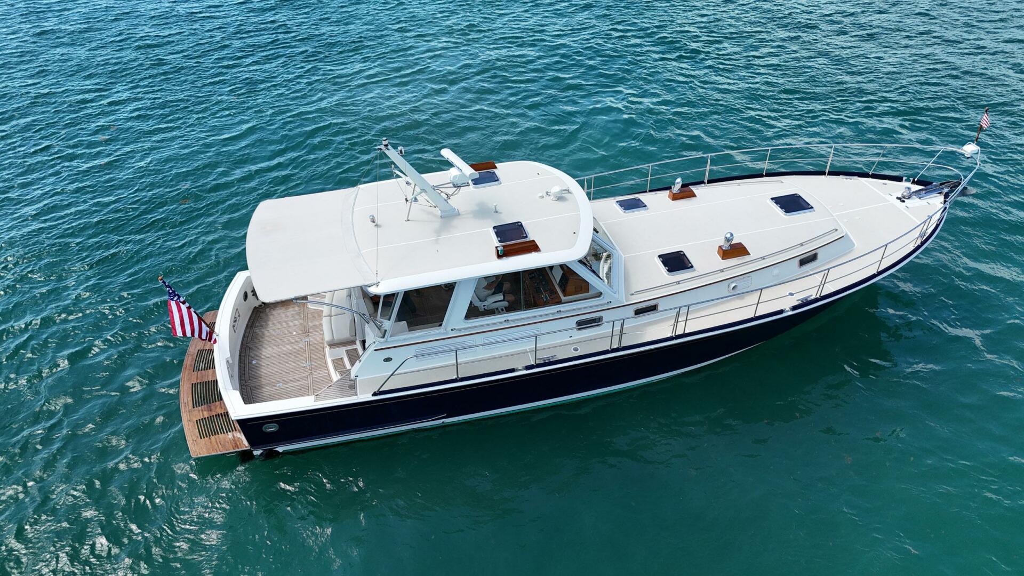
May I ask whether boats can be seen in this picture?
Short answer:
Yes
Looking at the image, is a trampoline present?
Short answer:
No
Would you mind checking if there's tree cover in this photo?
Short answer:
No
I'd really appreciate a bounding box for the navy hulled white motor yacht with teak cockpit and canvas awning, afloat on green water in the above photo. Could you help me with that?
[175,132,990,465]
